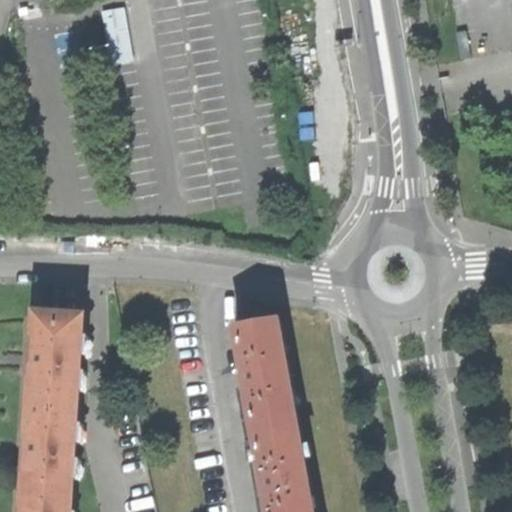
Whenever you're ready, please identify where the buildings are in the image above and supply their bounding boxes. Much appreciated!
[228,316,315,512]
[14,306,94,512]
[101,7,134,64]
[456,30,470,60]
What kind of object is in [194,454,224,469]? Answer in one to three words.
vehicle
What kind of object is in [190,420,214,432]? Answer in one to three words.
vehicle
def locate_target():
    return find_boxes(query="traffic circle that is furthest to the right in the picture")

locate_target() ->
[338,216,455,328]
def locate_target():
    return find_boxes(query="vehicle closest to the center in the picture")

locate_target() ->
[224,292,236,325]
